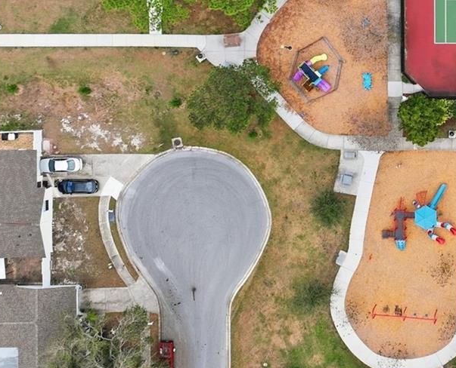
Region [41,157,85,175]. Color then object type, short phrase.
white car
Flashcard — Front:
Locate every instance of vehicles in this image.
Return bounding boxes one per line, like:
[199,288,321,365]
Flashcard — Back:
[41,157,85,175]
[156,339,177,368]
[58,178,102,196]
